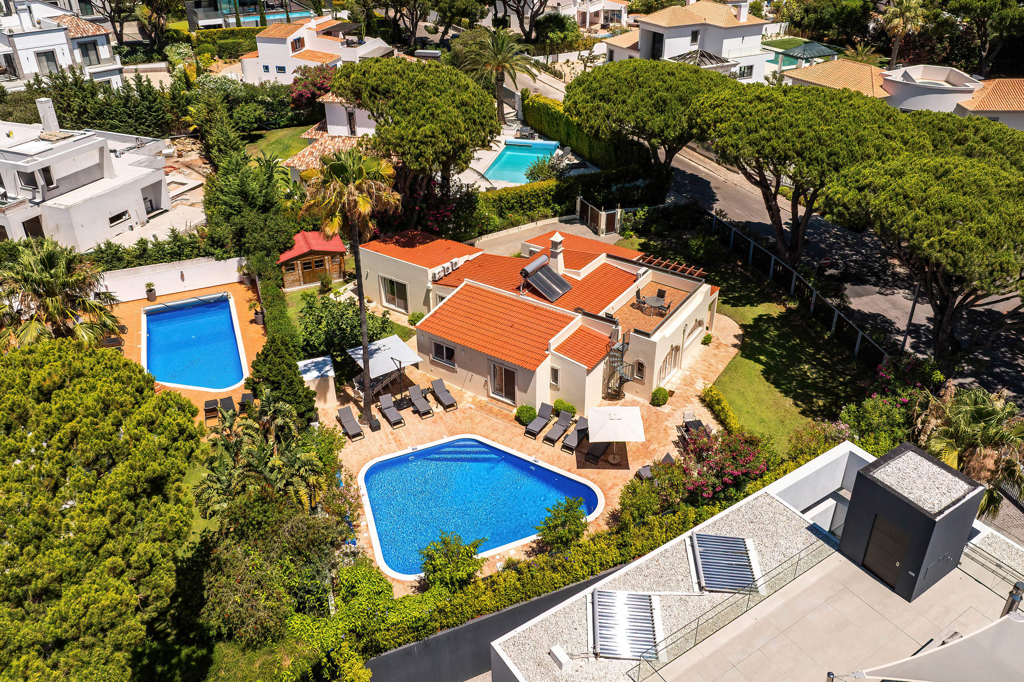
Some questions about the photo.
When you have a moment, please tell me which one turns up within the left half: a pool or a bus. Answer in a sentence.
Looking within the left half, you will find a pool.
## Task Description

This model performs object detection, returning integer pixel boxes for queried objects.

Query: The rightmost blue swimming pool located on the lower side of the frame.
[357,428,603,576]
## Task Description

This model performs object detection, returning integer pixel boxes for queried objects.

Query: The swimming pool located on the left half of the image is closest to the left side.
[141,297,247,390]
